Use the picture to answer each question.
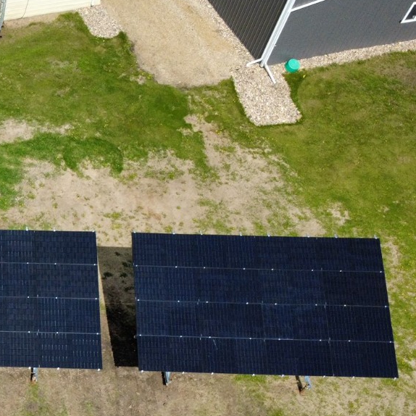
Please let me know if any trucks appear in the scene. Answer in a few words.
No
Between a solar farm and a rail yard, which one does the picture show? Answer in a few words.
solar farm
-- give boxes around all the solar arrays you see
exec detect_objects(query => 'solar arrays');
[0,226,101,382]
[131,229,397,390]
